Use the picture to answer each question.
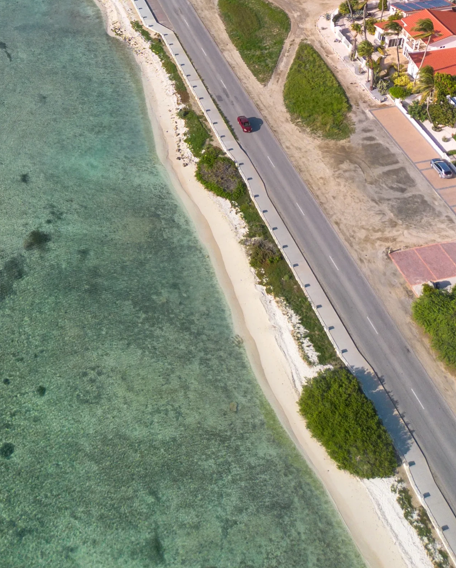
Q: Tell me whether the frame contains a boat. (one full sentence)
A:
No, I can see no boat in this picture.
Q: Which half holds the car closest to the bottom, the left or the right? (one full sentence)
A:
It is on the right.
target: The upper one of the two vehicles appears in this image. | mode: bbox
[234,119,253,138]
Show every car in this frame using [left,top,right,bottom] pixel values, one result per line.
[427,156,456,178]
[234,119,253,138]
